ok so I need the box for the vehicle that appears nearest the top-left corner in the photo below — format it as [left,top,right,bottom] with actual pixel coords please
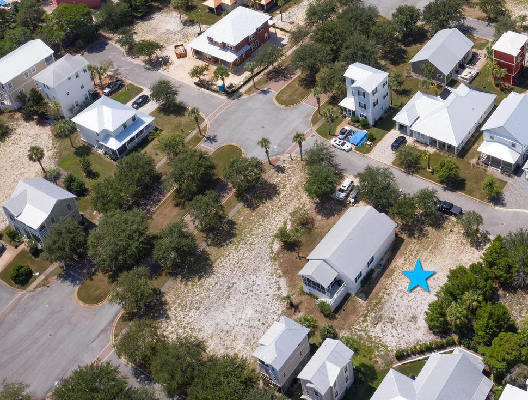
[100,77,128,95]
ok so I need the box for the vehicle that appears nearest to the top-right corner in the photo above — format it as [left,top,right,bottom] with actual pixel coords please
[390,132,410,151]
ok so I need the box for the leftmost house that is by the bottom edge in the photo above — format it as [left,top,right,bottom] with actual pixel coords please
[251,317,311,395]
